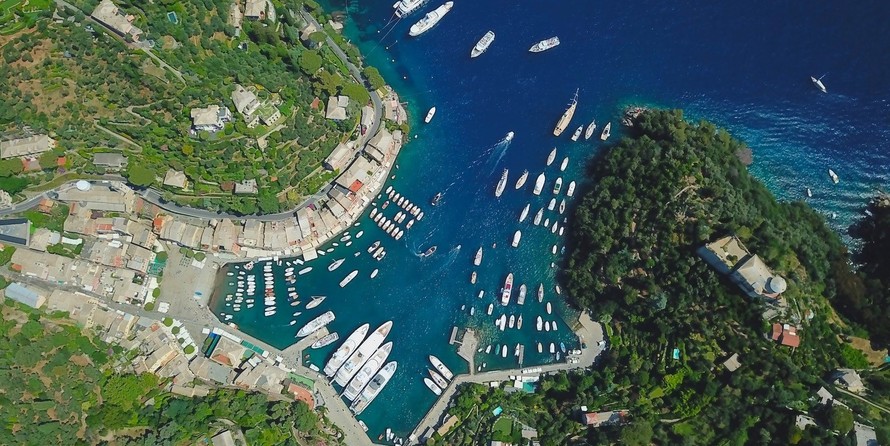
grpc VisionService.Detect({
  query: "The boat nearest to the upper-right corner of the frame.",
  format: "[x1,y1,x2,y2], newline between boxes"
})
[812,76,837,93]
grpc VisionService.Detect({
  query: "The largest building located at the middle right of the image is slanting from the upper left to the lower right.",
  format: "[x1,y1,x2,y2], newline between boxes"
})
[694,235,788,299]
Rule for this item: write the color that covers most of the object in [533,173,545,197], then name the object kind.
white boat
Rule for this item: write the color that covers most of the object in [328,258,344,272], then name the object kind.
white boat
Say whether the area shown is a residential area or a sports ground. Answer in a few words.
residential area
